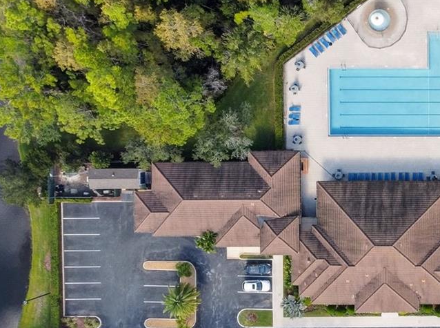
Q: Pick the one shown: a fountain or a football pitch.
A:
fountain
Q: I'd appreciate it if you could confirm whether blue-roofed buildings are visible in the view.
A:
No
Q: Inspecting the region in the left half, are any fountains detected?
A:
No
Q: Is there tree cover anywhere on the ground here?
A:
Yes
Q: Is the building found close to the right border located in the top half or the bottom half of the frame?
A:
bottom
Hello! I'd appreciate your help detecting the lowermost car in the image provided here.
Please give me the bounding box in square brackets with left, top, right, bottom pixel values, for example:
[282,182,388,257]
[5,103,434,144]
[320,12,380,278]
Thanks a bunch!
[243,279,271,293]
